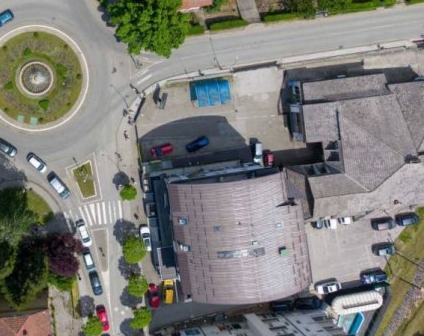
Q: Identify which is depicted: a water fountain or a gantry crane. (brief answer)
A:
water fountain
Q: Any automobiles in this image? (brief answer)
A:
Yes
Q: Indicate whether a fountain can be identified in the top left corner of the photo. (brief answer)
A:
Yes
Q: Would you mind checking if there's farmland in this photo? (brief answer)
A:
No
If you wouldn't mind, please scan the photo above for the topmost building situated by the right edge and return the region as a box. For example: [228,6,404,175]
[272,74,424,221]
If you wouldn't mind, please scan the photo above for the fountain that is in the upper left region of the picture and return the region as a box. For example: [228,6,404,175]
[18,59,56,97]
